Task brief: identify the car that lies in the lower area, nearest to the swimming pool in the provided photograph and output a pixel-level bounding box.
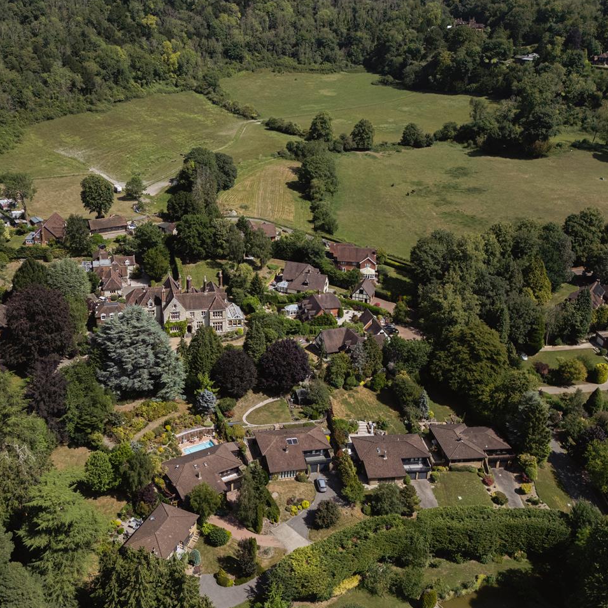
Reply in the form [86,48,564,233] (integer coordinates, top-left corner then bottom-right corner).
[314,475,327,492]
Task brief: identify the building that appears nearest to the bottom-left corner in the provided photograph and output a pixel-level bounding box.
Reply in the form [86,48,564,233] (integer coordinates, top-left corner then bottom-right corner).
[130,499,202,564]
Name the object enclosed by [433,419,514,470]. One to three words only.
house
